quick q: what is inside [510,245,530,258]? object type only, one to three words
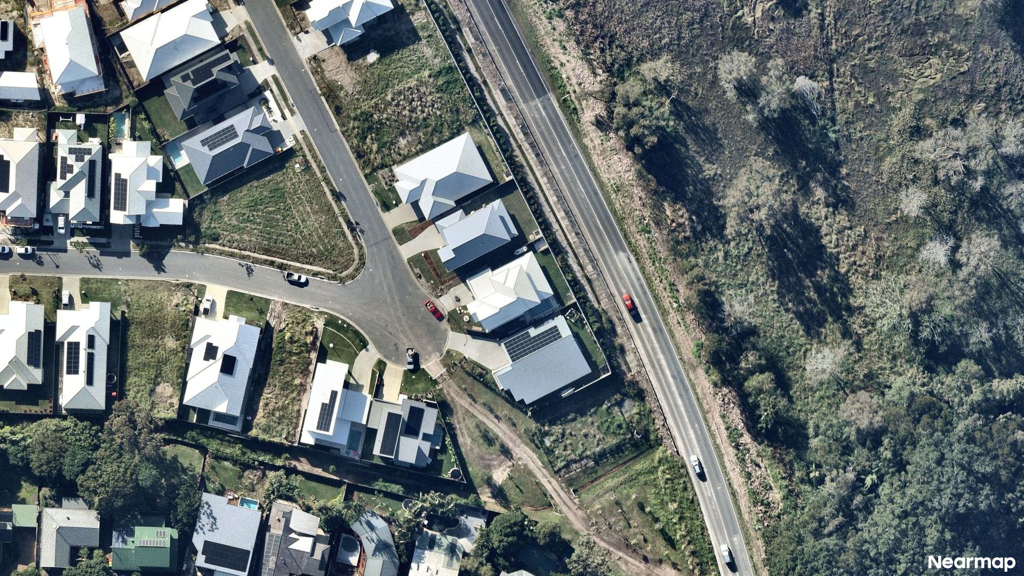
boat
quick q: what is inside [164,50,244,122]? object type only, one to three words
house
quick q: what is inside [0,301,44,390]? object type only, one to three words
house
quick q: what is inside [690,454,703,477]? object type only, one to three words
vehicle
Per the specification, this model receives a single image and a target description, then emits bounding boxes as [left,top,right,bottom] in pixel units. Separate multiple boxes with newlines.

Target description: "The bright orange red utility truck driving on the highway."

[622,293,638,317]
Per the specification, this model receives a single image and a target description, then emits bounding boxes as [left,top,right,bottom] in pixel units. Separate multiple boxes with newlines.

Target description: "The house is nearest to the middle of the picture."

[467,251,554,333]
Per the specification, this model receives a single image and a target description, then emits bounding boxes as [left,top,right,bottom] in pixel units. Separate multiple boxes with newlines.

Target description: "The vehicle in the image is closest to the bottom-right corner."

[720,543,733,567]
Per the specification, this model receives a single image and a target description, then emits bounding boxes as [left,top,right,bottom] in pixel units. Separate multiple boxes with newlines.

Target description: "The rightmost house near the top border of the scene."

[306,0,394,45]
